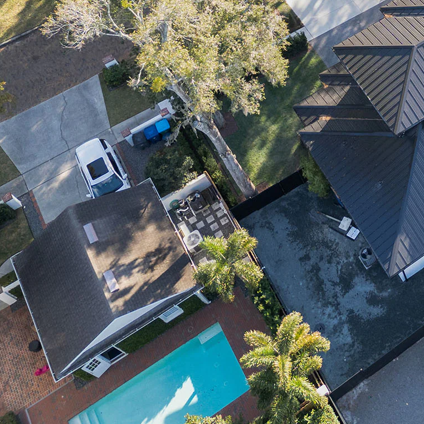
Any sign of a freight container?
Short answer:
No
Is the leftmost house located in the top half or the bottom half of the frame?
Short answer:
bottom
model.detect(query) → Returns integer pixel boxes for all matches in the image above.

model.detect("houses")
[293,0,424,282]
[10,177,228,386]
